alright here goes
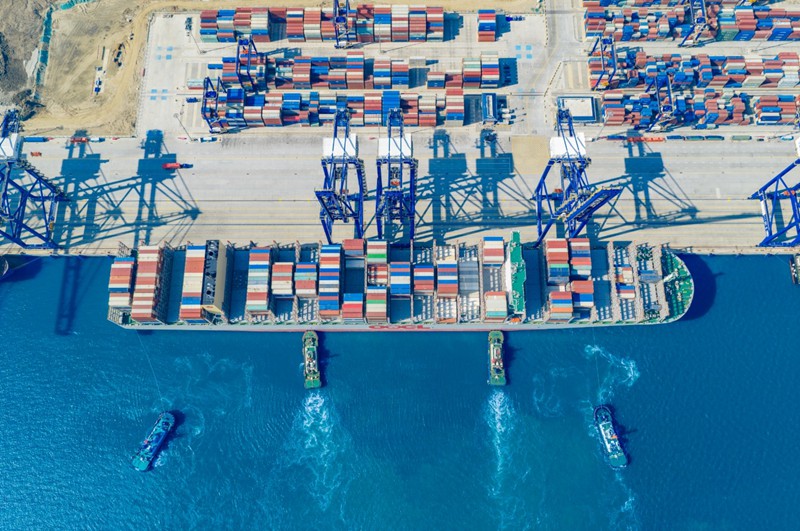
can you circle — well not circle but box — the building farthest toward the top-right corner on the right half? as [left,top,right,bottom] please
[556,98,598,127]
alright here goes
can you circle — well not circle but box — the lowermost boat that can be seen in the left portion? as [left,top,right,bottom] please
[134,412,176,472]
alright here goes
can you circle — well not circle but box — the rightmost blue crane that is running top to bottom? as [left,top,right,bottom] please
[747,108,800,247]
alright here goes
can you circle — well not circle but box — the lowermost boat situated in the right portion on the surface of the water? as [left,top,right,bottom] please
[594,405,625,469]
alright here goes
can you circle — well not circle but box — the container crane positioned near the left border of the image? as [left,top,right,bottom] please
[0,108,70,247]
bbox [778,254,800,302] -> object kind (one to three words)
ship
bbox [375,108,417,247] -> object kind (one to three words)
container crane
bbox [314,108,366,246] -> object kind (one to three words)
container crane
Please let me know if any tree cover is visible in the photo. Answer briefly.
No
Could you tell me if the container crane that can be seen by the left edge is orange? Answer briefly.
No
